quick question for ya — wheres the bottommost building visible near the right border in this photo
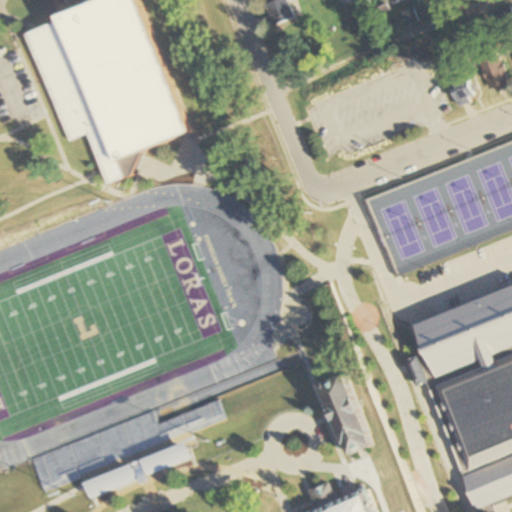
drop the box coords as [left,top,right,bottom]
[458,450,512,501]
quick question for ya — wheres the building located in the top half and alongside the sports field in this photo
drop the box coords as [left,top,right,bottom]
[24,0,188,184]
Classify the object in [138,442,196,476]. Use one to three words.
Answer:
building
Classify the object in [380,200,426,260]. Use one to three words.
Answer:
tennis court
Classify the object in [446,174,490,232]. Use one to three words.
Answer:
tennis court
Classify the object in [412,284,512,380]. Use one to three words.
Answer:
building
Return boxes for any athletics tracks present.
[0,184,282,470]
